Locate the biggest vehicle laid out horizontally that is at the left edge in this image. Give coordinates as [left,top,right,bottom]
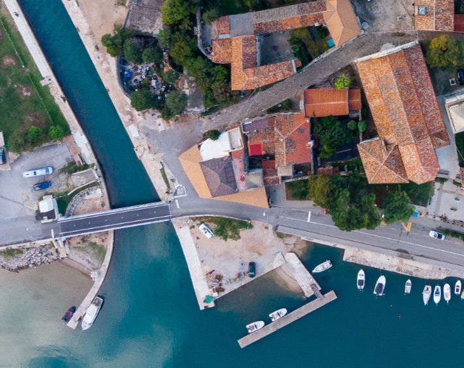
[19,167,53,179]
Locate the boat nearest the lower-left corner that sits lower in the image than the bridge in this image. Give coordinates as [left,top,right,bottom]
[63,304,78,322]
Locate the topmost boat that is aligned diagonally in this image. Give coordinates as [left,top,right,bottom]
[313,259,333,272]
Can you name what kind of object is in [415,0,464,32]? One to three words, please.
house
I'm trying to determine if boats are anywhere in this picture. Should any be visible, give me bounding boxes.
[268,308,287,322]
[246,321,264,334]
[357,269,364,291]
[435,285,441,304]
[455,281,461,296]
[63,304,78,322]
[405,280,411,295]
[373,275,385,297]
[313,259,333,272]
[423,284,432,305]
[84,296,104,329]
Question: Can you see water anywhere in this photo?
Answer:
Yes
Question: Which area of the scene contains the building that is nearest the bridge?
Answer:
left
